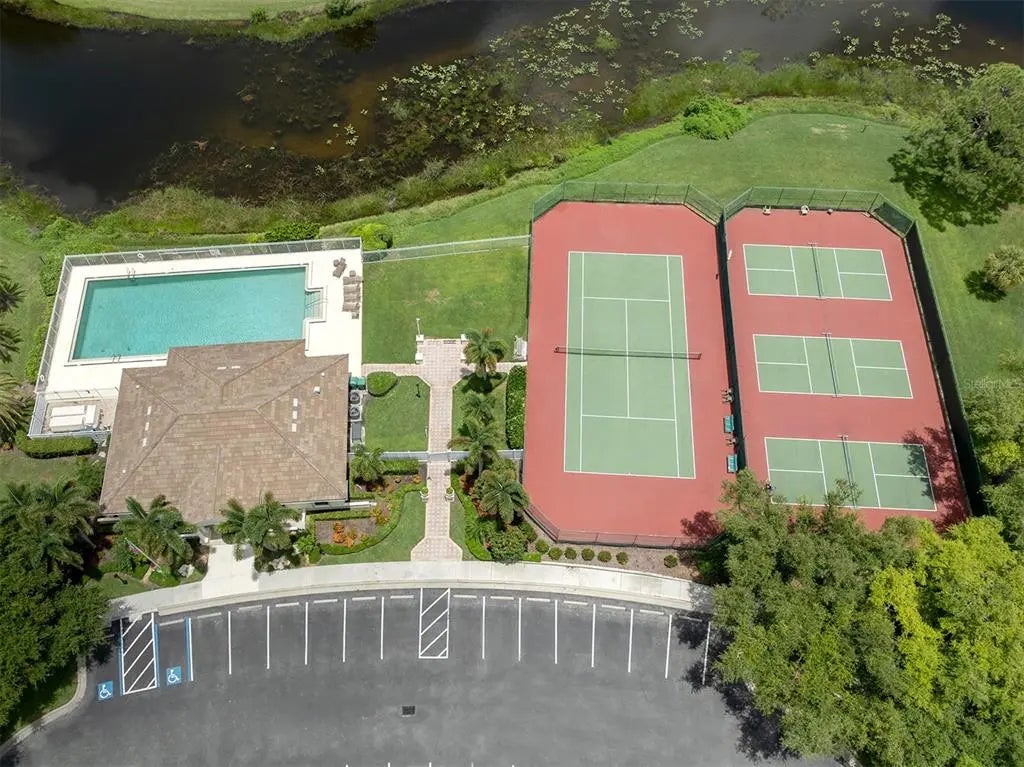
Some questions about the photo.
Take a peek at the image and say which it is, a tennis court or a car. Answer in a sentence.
Of the two, only a tennis court appears.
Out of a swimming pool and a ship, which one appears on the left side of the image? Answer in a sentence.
Visible on the left side of the image is a swimming pool.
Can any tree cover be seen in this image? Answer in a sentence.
Yes, there is tree cover in the image.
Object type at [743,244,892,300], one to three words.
sports court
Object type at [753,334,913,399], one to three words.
sports court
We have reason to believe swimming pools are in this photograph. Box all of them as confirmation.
[47,249,362,440]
